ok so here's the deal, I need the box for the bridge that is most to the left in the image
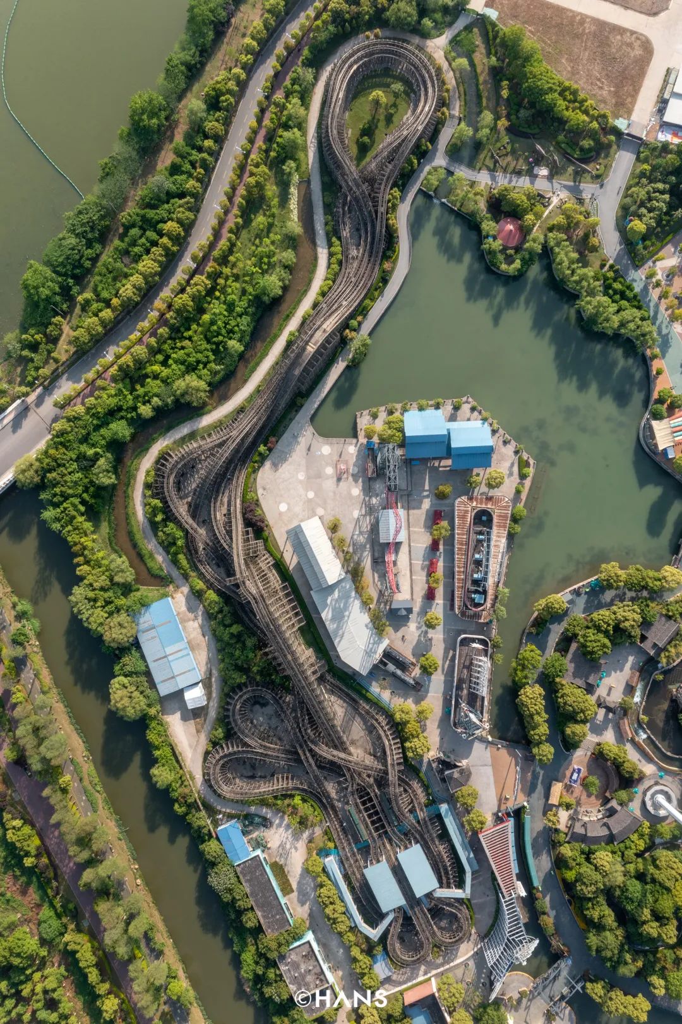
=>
[0,387,54,488]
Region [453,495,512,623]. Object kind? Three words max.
building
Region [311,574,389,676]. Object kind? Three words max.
building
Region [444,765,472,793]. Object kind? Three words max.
house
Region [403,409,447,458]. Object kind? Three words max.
shed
